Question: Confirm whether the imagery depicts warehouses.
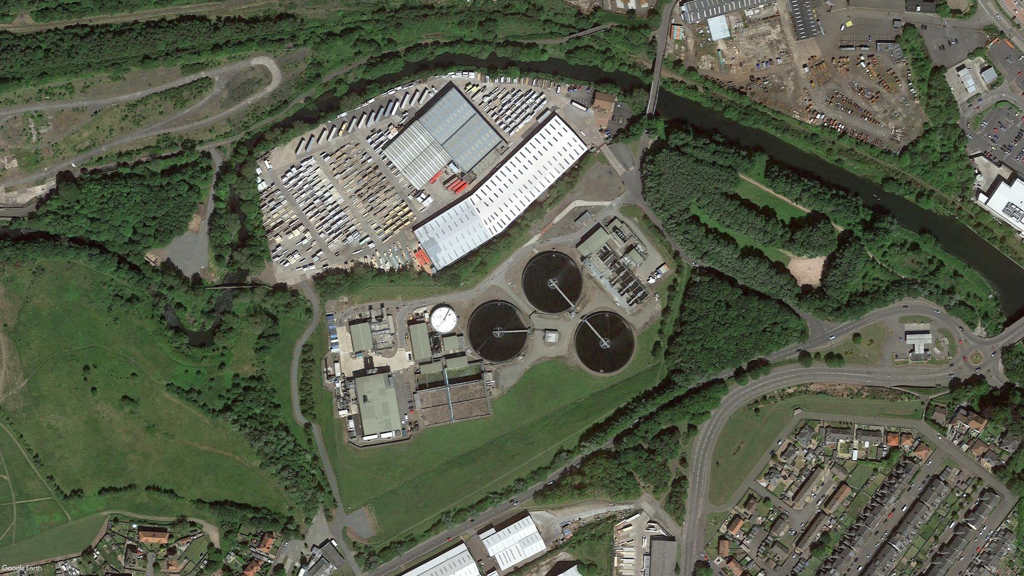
Yes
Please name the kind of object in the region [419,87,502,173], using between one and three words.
building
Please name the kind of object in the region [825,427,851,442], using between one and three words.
house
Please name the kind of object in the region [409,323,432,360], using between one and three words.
building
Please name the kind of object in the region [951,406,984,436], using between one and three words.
house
